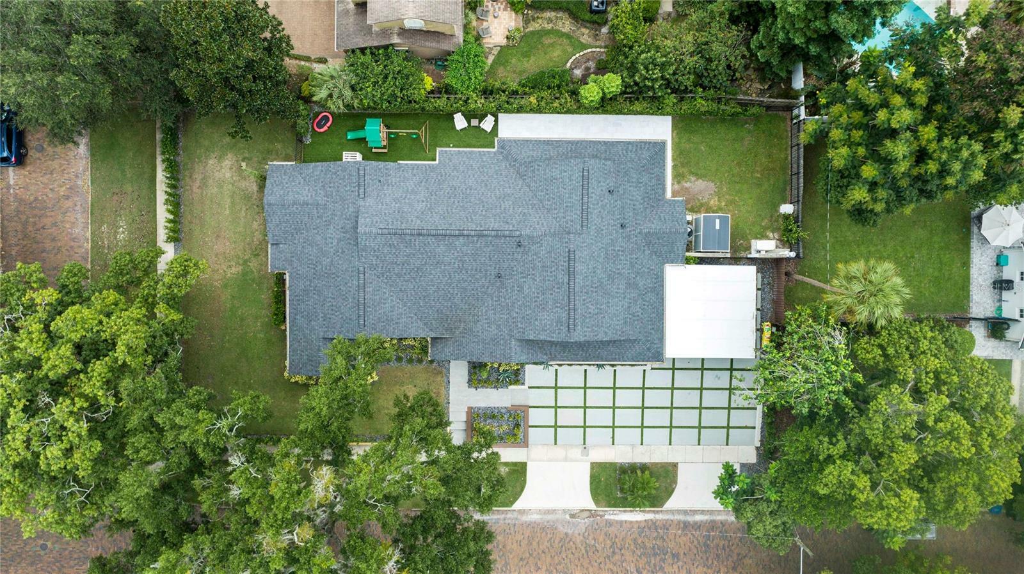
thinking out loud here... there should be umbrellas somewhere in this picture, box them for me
[973,204,1023,249]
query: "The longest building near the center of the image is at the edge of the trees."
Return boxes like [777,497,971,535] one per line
[263,138,687,376]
